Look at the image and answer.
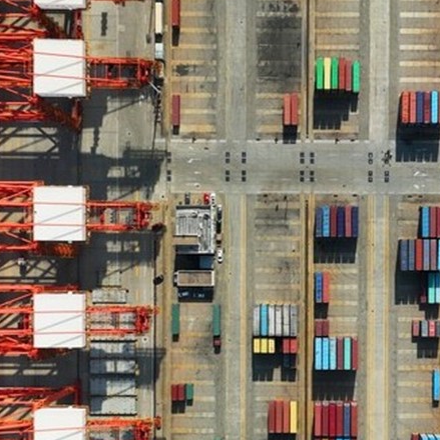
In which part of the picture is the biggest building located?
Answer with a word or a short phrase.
center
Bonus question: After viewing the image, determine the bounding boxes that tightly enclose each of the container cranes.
[0,179,159,259]
[0,271,159,363]
[0,33,159,125]
[0,369,159,440]
[0,0,94,41]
